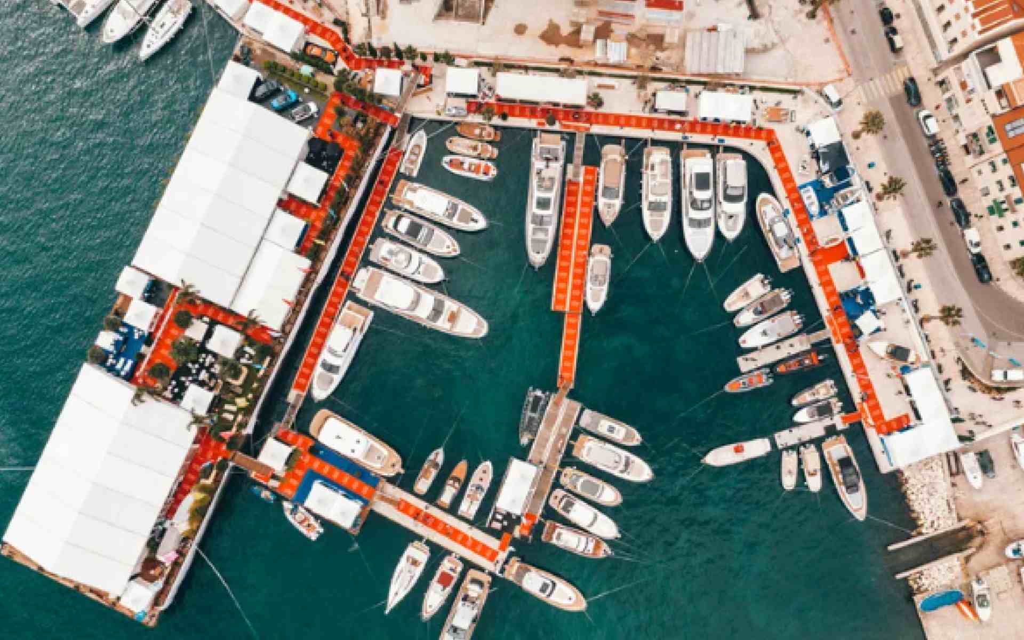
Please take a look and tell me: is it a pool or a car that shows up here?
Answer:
car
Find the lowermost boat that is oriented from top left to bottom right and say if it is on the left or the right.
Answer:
right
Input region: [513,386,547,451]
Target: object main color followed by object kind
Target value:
gray boat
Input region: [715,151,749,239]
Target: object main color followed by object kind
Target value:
white boat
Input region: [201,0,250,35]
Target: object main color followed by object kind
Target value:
white tent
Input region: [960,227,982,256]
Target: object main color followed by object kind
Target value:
white car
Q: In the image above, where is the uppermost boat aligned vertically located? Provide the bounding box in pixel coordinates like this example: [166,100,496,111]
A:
[402,130,427,179]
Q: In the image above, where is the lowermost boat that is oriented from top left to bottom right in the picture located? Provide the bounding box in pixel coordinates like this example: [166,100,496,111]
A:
[955,599,976,621]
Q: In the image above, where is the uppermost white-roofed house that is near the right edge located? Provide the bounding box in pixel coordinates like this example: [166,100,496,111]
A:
[964,36,1024,94]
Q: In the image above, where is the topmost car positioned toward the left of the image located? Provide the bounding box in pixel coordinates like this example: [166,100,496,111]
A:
[304,42,337,65]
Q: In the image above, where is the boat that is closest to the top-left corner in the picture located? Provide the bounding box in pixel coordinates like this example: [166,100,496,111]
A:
[77,0,116,27]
